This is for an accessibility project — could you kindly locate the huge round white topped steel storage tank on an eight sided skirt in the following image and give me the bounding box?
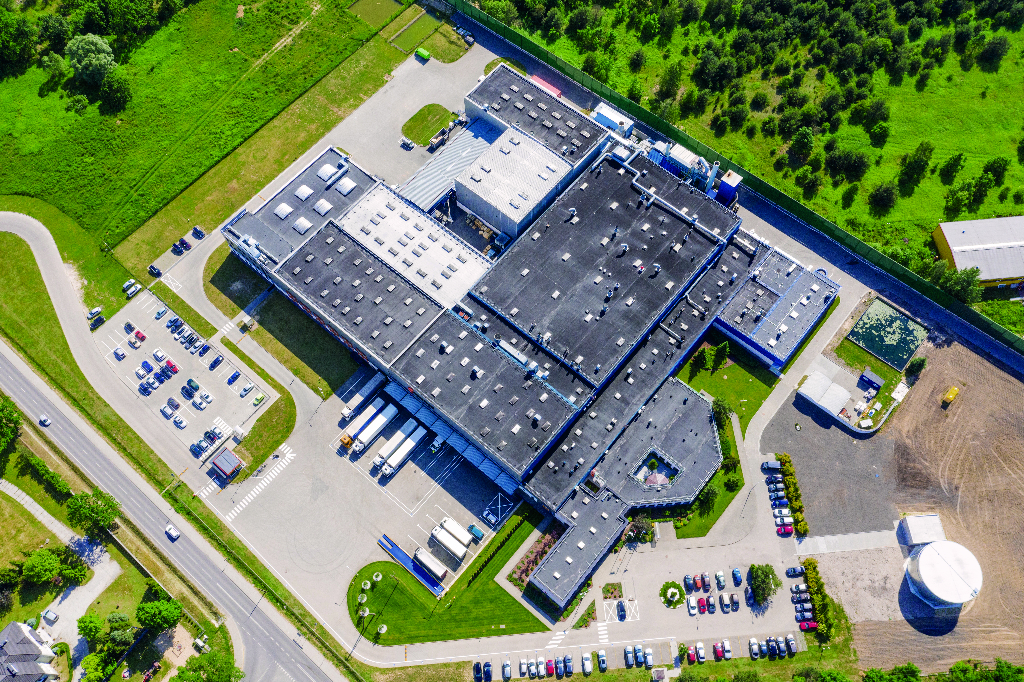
[903,541,983,611]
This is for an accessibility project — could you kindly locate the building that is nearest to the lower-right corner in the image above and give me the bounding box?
[900,514,947,549]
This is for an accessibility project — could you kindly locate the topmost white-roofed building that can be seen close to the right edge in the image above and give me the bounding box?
[932,217,1024,280]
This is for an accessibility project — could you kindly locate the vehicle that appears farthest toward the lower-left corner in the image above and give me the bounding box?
[43,609,60,622]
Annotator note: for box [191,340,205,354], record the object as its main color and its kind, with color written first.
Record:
white car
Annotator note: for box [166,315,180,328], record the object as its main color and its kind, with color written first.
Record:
blue vehicle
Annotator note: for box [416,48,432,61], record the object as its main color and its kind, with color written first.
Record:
green vehicle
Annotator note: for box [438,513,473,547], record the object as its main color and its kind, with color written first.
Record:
white truck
